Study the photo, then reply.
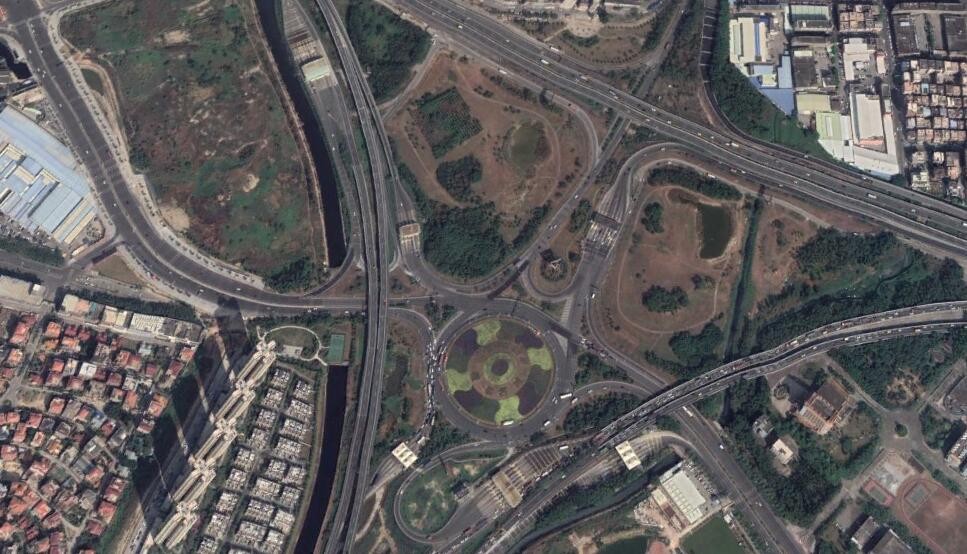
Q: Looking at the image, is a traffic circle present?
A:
Yes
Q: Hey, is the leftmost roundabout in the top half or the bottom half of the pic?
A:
bottom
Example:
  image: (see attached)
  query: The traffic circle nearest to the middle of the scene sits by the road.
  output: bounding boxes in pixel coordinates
[427,297,573,443]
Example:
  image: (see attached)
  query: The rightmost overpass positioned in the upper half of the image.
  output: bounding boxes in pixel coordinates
[608,86,666,130]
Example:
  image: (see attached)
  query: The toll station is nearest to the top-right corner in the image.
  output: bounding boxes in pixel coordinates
[586,203,625,243]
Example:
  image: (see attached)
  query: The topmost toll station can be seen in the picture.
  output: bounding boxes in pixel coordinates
[297,53,330,90]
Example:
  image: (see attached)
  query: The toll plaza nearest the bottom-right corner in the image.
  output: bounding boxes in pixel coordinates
[610,441,644,472]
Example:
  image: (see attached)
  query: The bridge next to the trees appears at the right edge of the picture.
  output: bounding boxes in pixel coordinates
[591,301,967,445]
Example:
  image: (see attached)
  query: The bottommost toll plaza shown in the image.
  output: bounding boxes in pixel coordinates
[485,469,527,511]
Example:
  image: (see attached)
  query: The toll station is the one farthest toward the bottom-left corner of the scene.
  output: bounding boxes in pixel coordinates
[389,442,420,470]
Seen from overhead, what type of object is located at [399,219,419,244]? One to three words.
toll station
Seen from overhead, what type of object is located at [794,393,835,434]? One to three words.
building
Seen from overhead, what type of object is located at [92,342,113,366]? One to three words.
house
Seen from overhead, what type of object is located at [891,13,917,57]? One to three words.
building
